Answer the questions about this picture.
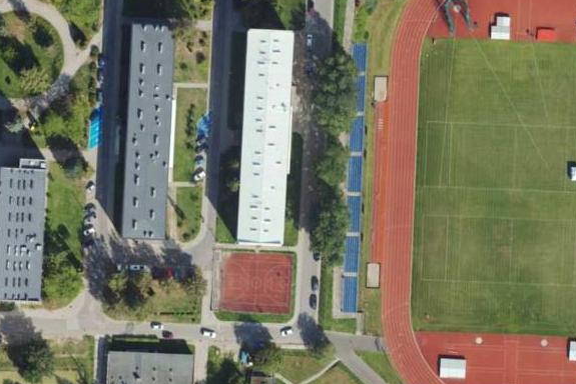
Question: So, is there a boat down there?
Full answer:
No, this view has no boat in it.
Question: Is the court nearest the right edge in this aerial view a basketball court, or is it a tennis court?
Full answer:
It looks like the court nearest the right edge is a basketball court.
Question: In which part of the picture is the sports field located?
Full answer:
You can find the sports field in the right area of the picture.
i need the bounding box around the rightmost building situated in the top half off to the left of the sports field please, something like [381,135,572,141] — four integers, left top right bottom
[236,29,294,244]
